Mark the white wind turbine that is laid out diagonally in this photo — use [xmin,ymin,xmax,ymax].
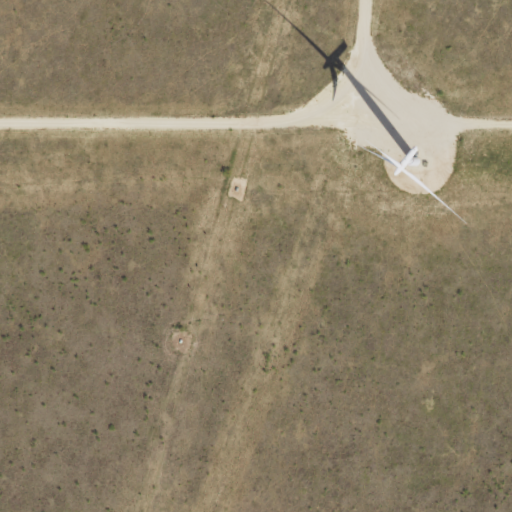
[362,144,465,221]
